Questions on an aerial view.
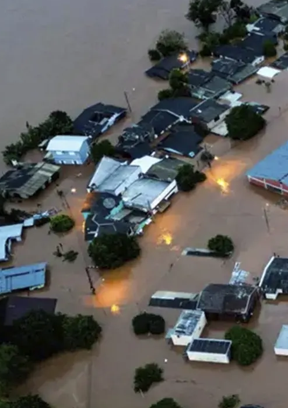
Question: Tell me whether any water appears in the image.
Yes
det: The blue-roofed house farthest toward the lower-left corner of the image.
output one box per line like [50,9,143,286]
[0,262,47,298]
